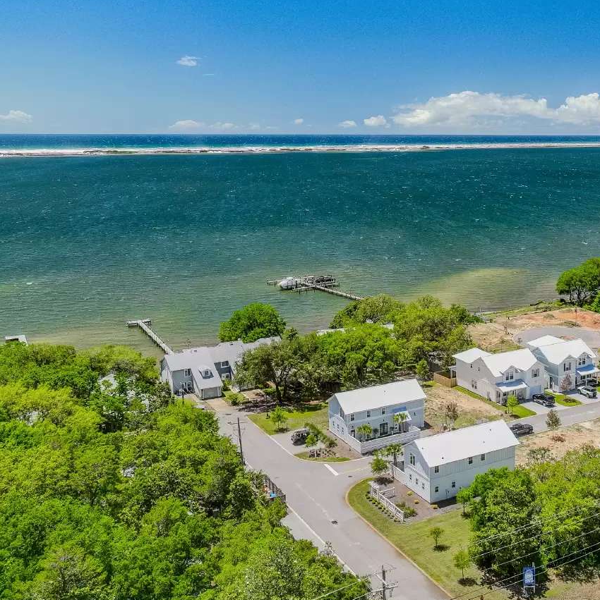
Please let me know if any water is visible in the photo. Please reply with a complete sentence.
Yes, there is water in the image.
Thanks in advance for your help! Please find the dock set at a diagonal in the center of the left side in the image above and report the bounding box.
[125,317,174,353]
